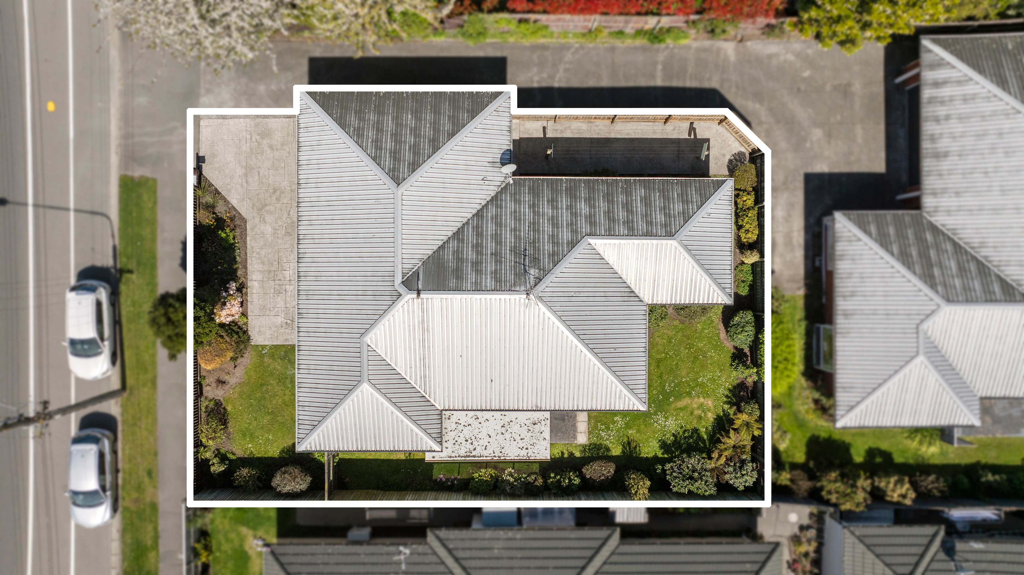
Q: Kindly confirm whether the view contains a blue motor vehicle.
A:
No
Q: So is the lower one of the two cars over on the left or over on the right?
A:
left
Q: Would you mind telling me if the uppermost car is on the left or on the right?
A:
left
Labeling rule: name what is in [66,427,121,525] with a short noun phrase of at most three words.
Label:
car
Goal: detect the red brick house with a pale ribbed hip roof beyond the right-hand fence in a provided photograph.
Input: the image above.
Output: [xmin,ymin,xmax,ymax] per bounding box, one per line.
[813,33,1024,430]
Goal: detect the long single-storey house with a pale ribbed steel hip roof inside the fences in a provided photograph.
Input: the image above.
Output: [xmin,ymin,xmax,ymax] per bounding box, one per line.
[293,84,737,455]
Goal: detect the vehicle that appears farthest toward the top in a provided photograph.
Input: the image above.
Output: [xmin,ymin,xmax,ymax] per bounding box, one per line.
[63,280,119,379]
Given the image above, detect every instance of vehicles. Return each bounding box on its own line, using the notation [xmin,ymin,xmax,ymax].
[66,427,121,525]
[63,280,119,379]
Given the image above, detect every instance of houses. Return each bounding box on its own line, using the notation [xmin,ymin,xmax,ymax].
[293,84,737,455]
[817,508,1024,575]
[813,33,1024,430]
[262,519,786,575]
